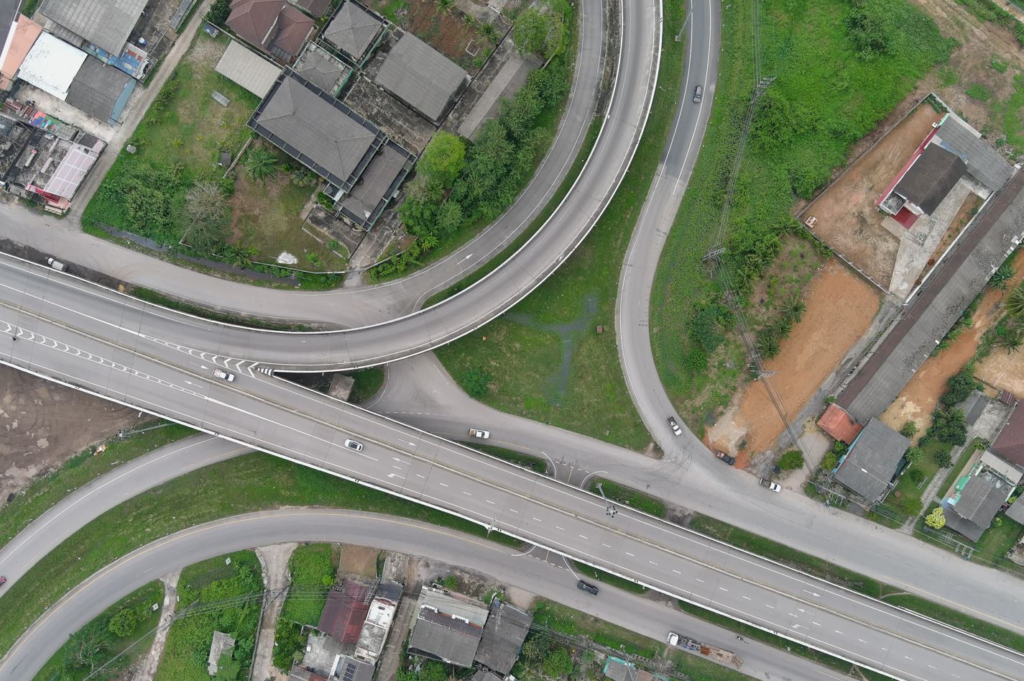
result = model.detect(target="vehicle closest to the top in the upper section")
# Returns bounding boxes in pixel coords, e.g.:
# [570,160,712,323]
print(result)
[199,20,221,38]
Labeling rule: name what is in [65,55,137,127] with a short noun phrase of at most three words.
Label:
house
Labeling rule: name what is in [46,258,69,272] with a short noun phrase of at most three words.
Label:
vehicle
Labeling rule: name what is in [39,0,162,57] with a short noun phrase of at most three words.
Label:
building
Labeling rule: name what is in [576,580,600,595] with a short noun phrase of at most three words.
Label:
vehicle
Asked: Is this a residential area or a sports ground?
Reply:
residential area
